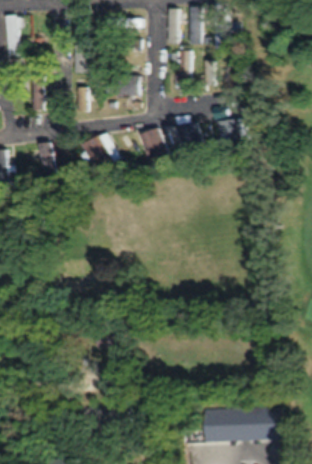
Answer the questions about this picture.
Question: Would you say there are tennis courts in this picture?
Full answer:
No, I can see no tennis court in this picture.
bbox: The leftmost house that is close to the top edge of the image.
[4,14,24,50]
